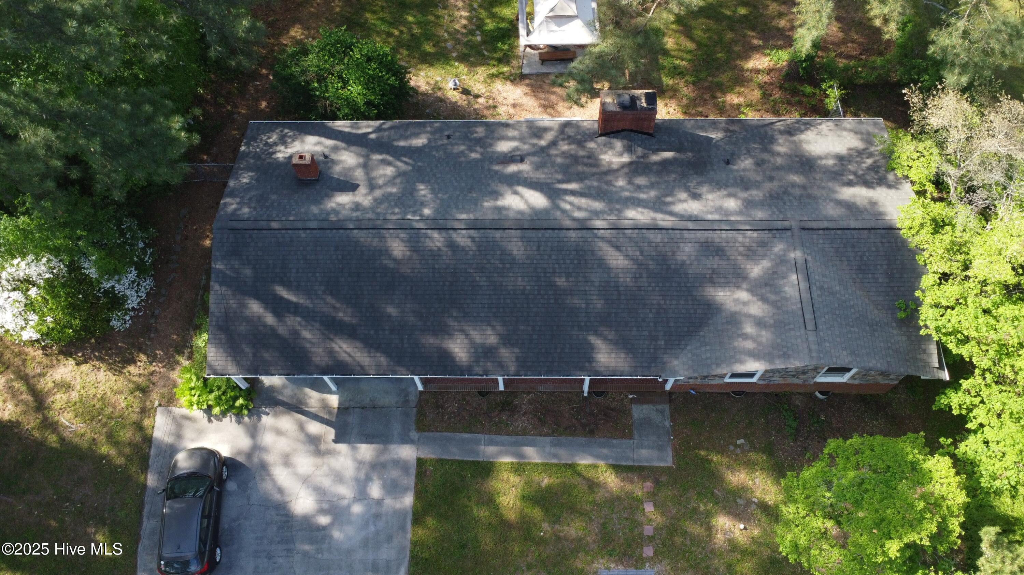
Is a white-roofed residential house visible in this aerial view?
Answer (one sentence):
No, the frame has no white-roofed residential house in it.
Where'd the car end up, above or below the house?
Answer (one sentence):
The car is below the house.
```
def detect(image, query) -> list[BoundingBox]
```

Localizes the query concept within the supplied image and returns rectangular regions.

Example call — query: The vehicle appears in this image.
[155,446,228,575]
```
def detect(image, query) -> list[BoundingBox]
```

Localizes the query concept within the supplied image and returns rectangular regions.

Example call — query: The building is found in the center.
[206,89,948,402]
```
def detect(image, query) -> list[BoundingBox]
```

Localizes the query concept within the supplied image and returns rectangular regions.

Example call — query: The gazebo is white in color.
[518,0,602,73]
